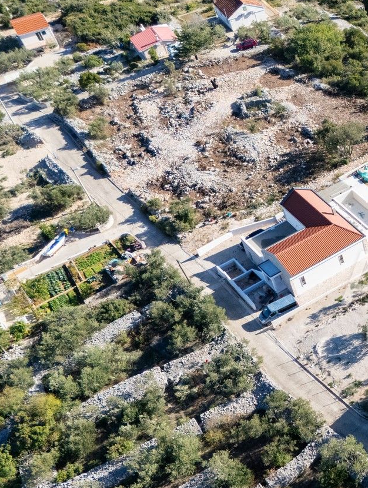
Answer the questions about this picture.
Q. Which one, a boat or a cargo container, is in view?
boat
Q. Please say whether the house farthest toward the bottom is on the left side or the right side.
right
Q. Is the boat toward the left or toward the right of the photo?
left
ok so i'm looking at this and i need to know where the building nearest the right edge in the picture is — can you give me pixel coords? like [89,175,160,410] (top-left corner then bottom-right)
[254,187,368,296]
